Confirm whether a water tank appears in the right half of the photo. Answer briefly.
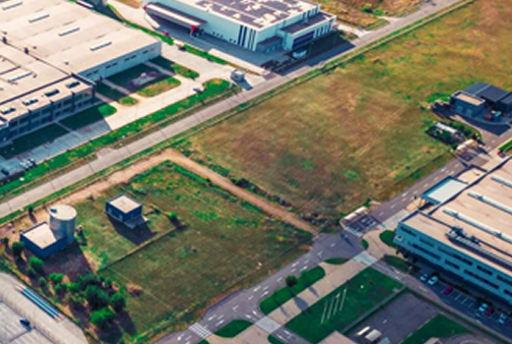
No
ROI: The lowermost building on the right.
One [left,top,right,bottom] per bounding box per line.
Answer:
[392,154,512,301]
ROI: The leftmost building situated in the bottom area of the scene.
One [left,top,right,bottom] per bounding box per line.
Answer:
[20,222,65,257]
